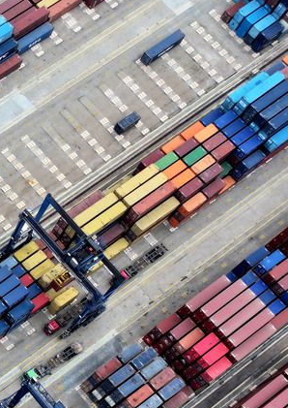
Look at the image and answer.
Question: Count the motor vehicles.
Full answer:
Looking from above, you can make out 3 motor vehicles.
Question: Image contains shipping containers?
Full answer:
Yes, this view includes a shipping container.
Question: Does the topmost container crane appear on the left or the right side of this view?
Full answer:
You can find the topmost container crane on the left side of the picture.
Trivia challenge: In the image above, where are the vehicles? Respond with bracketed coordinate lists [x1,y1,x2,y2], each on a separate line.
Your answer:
[124,239,171,276]
[43,293,93,334]
[22,340,78,382]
